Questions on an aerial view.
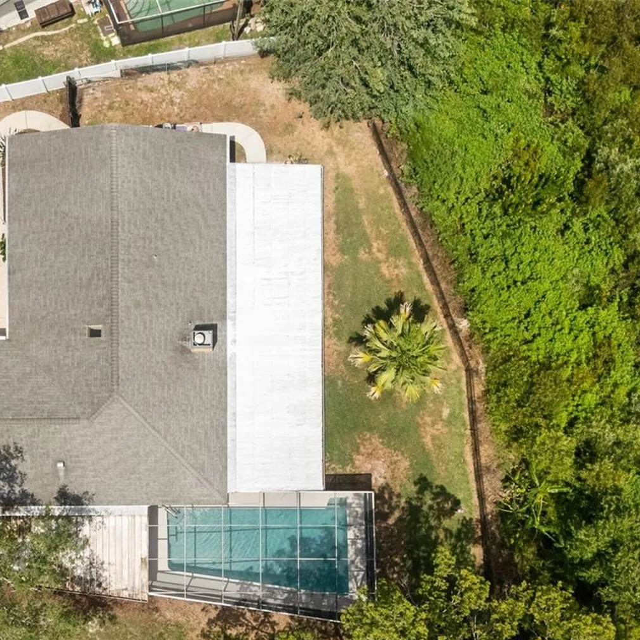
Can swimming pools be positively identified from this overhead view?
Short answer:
Yes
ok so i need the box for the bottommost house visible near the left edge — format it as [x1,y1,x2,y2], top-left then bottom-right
[0,124,229,507]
